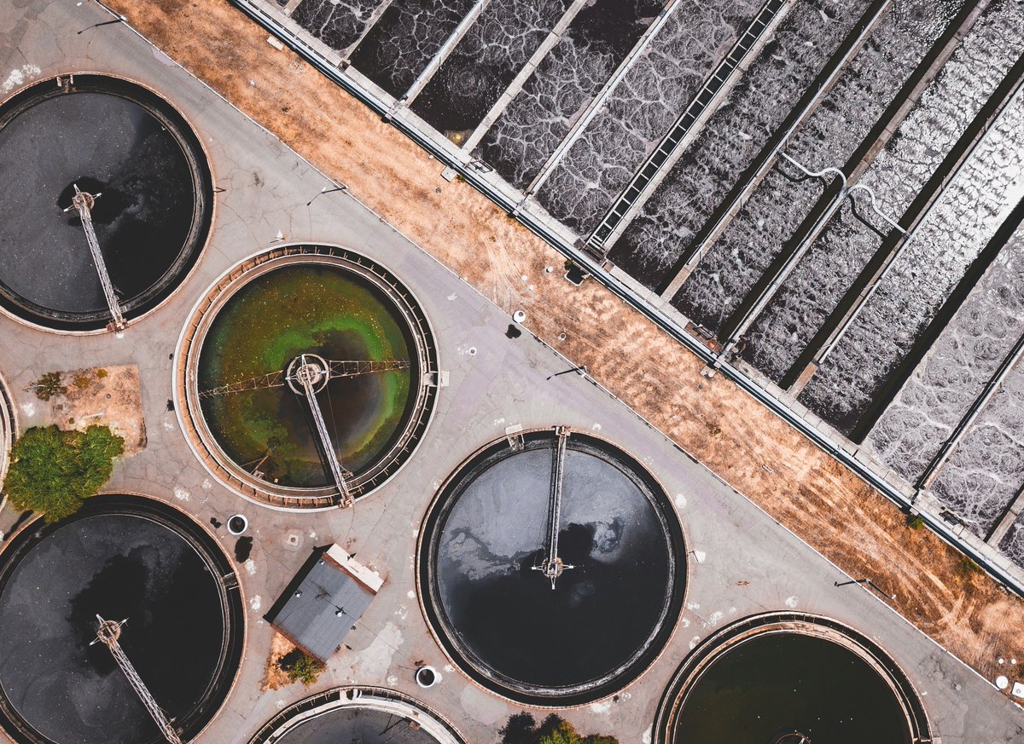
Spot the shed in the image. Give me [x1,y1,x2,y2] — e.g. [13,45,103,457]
[272,543,384,661]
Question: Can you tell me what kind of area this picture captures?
industrial area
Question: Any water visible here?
Yes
